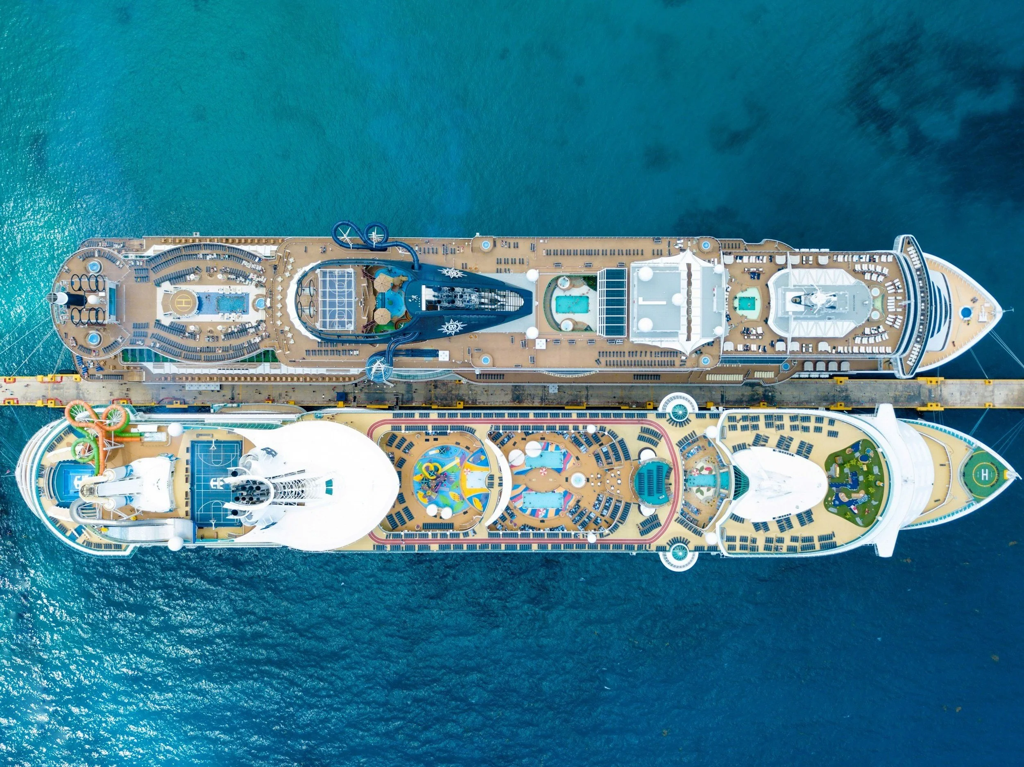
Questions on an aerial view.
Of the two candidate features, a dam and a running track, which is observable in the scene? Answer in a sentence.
The image shows a running track.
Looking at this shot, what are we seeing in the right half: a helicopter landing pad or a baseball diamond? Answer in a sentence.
You can see a helicopter landing pad in the right half.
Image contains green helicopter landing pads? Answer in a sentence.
Yes, the frame does contain a green helicopter landing pad.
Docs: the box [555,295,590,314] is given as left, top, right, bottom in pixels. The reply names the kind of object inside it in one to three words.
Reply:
swimming pool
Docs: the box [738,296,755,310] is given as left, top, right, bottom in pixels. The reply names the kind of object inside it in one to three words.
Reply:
swimming pool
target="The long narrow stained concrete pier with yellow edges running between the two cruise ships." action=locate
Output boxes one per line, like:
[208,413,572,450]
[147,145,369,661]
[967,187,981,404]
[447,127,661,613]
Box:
[0,374,1024,411]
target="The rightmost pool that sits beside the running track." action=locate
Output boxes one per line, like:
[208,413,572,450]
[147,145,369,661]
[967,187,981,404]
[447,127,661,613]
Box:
[688,461,729,500]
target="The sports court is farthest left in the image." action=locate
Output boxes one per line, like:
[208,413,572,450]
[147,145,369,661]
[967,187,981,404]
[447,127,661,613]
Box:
[190,440,245,530]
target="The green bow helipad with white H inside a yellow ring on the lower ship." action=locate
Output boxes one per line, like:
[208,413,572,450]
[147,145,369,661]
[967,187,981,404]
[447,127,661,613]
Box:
[956,445,1004,503]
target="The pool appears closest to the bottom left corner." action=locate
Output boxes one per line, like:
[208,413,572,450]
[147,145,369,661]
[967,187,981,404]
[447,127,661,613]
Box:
[44,444,103,523]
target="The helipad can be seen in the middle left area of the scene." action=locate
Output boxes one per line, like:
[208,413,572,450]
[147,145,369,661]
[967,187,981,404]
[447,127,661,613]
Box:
[162,286,200,320]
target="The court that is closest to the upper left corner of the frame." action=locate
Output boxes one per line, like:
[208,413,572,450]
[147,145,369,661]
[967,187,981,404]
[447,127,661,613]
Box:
[319,269,354,330]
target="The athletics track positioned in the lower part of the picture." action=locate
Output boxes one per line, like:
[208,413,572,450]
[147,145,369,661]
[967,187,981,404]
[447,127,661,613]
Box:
[368,419,680,545]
